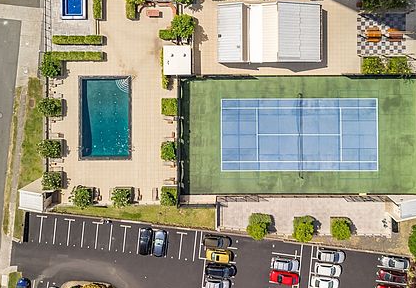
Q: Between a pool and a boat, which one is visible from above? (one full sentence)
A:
Visible in the photo is a pool.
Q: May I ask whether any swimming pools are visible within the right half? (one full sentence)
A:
No, I can find no swimming pool within the right half.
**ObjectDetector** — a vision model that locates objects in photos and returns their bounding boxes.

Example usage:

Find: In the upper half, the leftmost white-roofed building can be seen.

[163,46,193,75]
